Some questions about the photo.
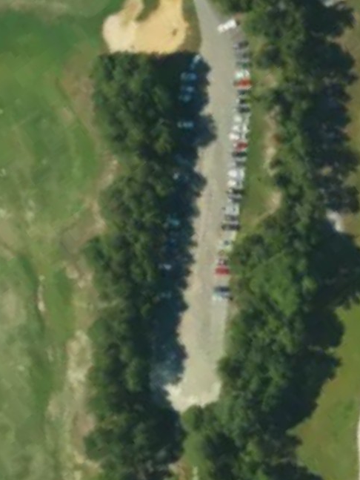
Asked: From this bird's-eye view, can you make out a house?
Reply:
No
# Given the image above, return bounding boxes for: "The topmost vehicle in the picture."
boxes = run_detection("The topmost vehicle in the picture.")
[218,17,237,31]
